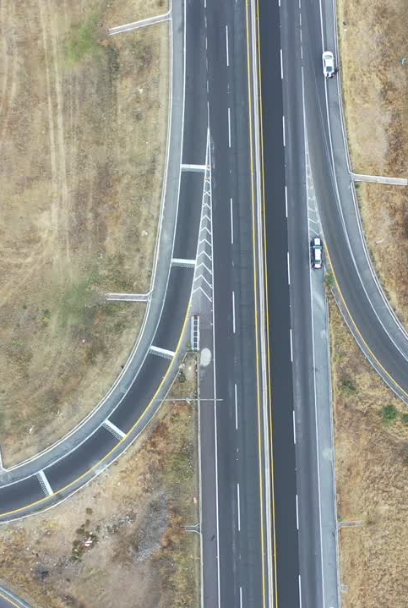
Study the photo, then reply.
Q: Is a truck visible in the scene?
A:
No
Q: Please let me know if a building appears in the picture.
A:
No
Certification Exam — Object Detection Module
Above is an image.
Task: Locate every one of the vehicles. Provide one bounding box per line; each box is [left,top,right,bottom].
[311,239,324,266]
[323,52,336,75]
